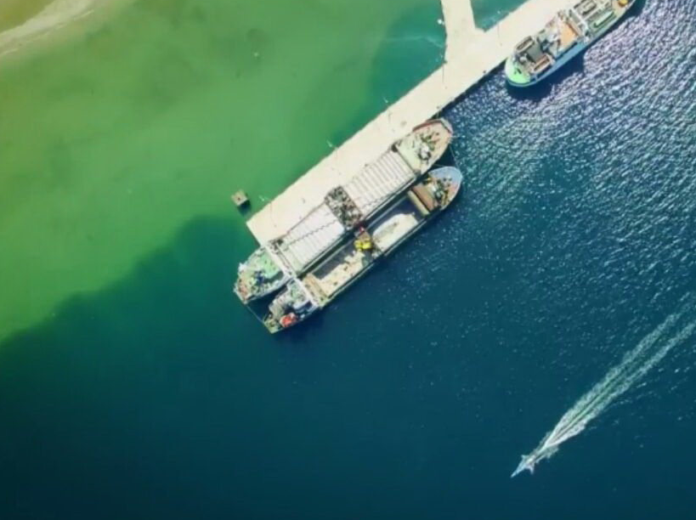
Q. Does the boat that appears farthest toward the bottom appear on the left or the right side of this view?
right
